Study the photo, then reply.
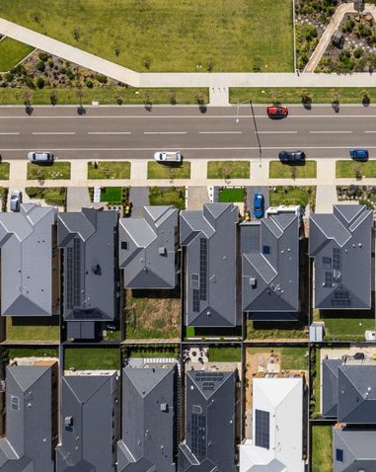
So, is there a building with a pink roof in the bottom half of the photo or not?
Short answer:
No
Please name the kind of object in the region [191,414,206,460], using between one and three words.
solar panel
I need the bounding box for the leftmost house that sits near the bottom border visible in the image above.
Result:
[0,363,57,472]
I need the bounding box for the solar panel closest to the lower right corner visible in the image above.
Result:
[256,410,269,448]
